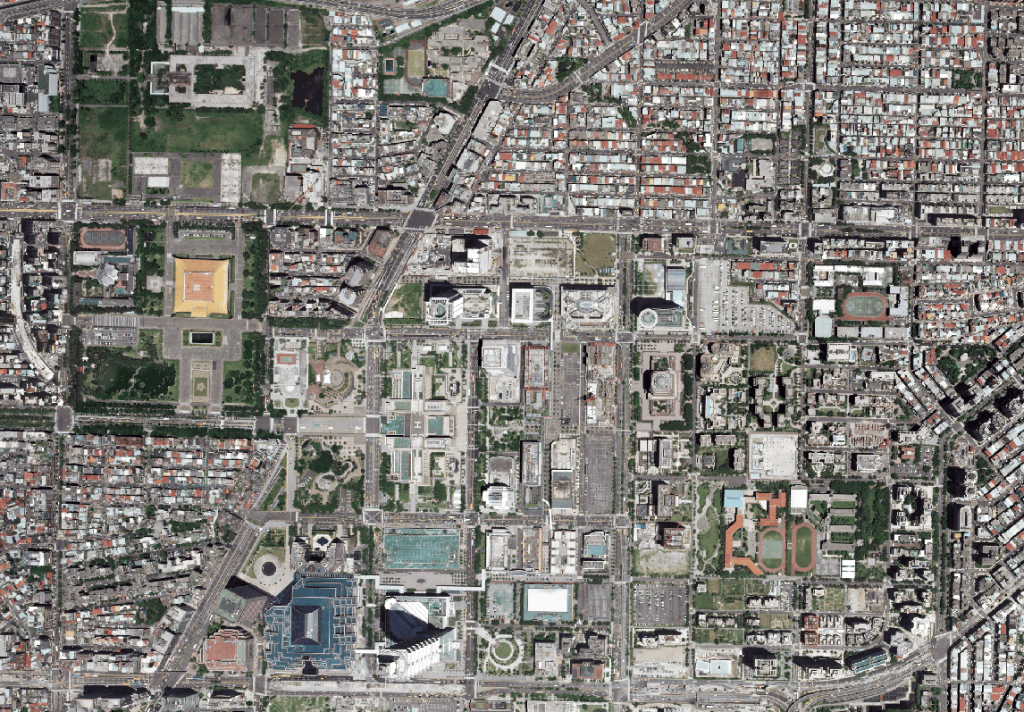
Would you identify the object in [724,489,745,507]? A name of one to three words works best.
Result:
building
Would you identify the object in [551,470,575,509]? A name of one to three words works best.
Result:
building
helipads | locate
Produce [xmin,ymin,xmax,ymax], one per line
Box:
[411,415,429,436]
